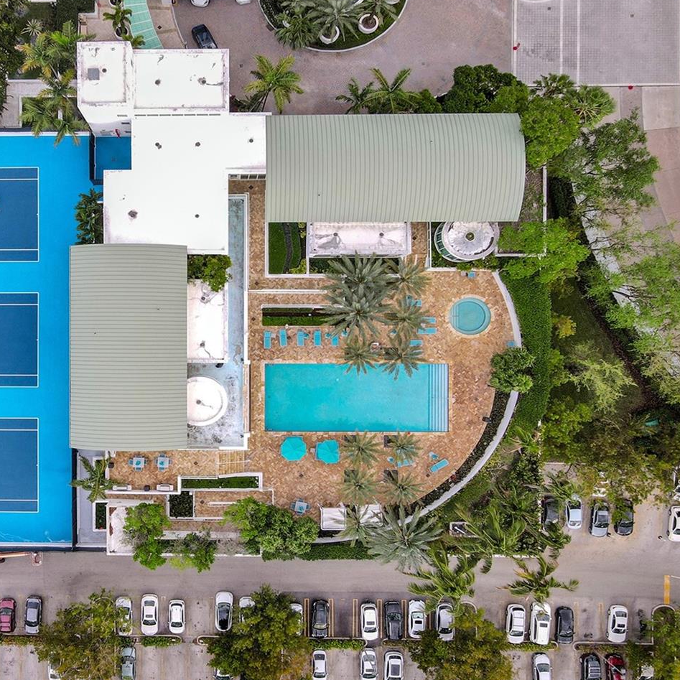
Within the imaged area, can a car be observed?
Yes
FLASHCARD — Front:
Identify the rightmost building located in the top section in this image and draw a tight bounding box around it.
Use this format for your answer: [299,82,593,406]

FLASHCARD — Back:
[70,42,529,451]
